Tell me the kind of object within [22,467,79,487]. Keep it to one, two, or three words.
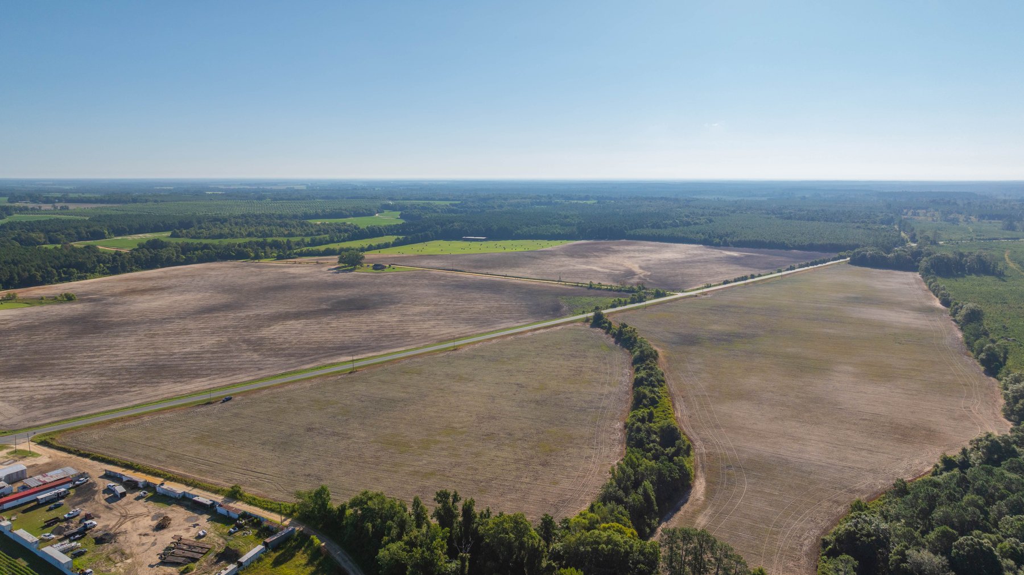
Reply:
shed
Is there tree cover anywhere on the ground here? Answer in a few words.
Yes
